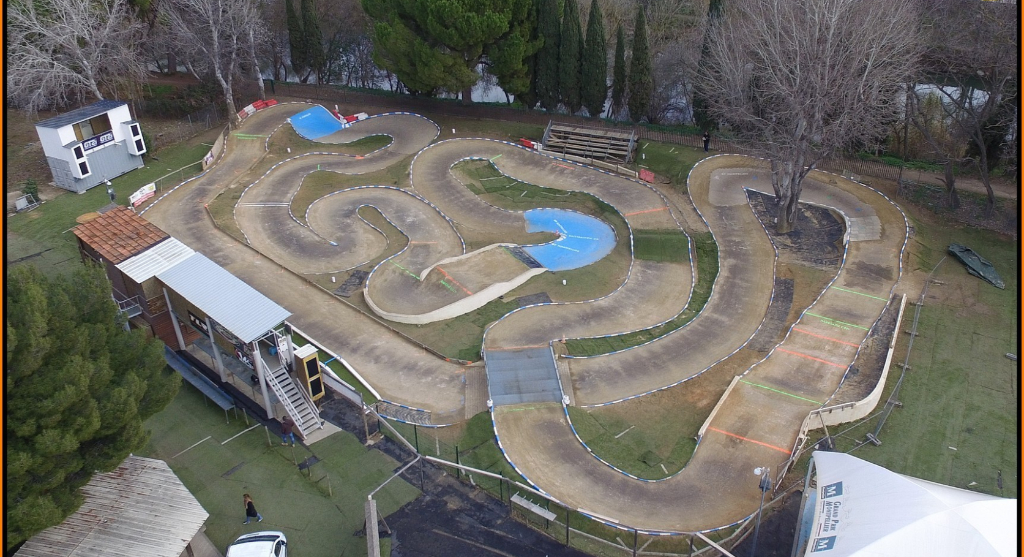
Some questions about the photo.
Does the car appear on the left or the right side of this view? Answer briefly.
left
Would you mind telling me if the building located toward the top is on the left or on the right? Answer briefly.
left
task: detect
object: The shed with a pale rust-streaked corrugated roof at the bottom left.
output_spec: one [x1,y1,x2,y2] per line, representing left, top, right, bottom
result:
[28,454,215,557]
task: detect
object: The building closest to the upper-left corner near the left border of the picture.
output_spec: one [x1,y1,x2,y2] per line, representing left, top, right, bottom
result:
[25,104,146,195]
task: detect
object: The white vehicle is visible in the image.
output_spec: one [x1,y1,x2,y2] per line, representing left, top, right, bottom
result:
[234,530,294,557]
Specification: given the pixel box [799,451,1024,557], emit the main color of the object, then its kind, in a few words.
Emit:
white tent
